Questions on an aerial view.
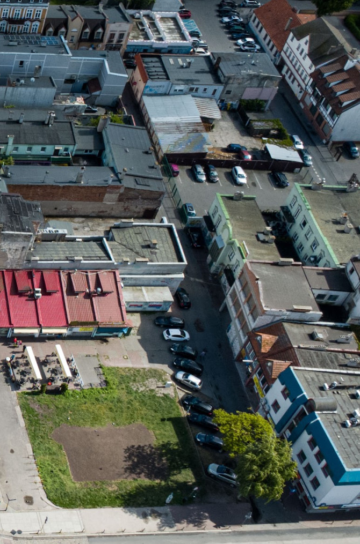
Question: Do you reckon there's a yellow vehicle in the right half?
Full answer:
No, in the right half there is no yellow vehicle.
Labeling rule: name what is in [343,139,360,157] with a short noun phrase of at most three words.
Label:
car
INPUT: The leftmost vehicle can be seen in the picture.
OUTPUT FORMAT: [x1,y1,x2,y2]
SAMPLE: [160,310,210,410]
[85,103,103,116]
